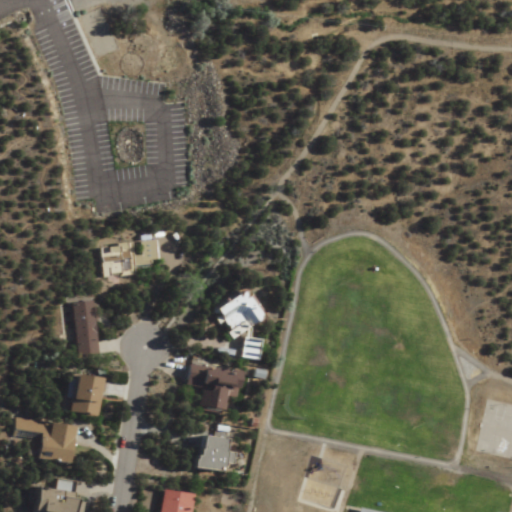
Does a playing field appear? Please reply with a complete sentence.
Yes, this view includes a playing field.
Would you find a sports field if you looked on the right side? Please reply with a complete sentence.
Yes, a sports field shows up on the right side.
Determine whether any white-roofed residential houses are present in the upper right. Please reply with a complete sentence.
No, no white-roofed residential house is visible in the upper right.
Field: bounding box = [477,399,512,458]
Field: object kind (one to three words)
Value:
sports court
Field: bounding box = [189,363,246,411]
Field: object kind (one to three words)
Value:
house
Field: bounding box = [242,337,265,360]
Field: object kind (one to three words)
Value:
shed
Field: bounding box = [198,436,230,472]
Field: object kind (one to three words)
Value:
house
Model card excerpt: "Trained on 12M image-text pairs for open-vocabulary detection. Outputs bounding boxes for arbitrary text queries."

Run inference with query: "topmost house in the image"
[100,239,160,278]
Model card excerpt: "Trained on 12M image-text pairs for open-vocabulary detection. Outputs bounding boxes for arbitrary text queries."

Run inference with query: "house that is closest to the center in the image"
[218,291,268,340]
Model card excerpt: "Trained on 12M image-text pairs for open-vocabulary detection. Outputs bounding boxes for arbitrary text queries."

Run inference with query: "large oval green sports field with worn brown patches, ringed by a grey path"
[273,235,466,463]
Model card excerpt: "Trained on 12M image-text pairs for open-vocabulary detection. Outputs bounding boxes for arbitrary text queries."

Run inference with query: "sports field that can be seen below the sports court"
[348,453,512,512]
